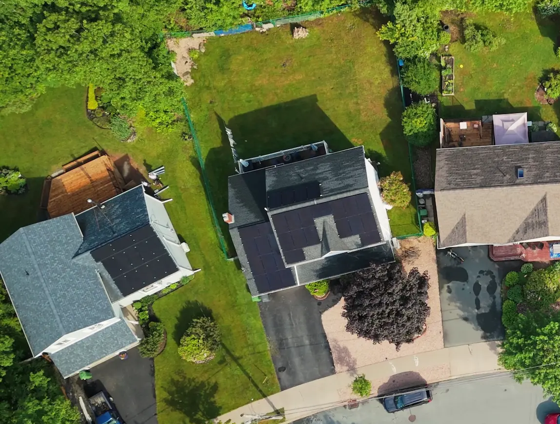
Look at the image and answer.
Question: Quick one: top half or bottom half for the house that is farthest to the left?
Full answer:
The bottom half of the photo is where the house that is farthest to the left is.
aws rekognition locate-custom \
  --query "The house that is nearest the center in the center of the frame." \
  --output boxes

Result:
[220,145,400,297]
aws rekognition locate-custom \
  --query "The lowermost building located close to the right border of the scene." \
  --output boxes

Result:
[434,140,560,252]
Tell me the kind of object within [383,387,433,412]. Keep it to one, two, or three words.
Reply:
car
